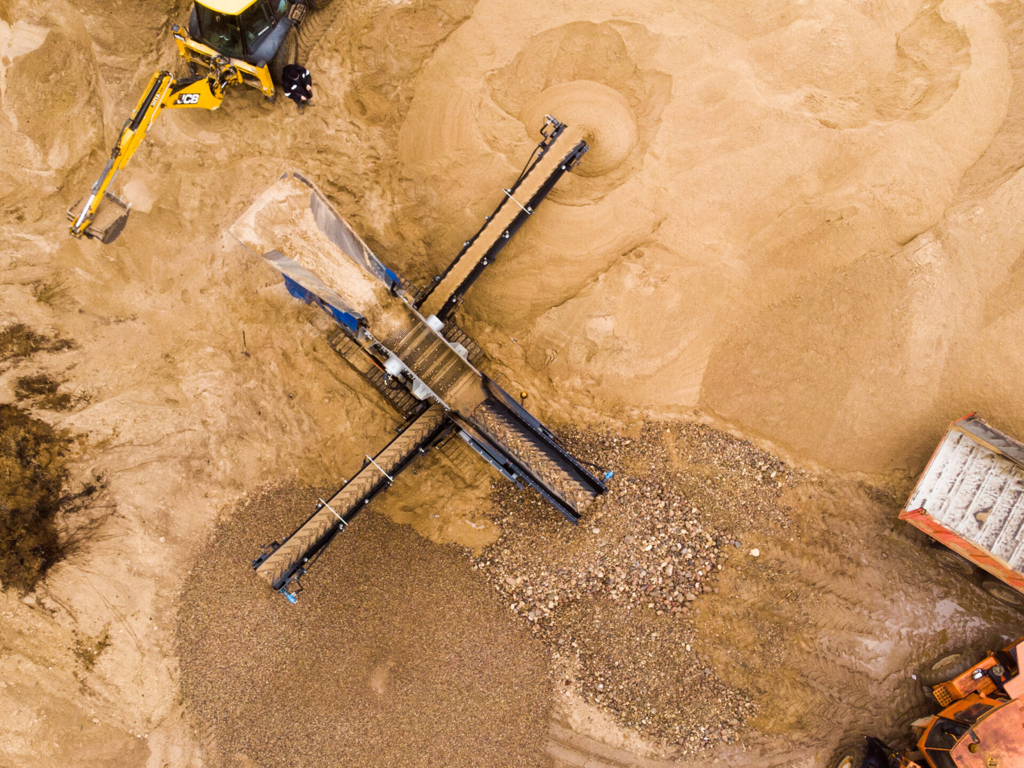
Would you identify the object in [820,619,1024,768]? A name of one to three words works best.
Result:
work vehicle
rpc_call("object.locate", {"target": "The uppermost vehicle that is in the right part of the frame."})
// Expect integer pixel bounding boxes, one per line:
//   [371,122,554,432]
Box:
[893,411,1024,621]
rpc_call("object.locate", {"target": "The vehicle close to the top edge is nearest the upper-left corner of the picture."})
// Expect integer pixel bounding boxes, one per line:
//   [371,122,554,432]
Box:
[66,0,344,238]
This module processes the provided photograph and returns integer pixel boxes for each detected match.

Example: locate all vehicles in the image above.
[893,411,1024,621]
[66,0,344,238]
[820,619,1024,768]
